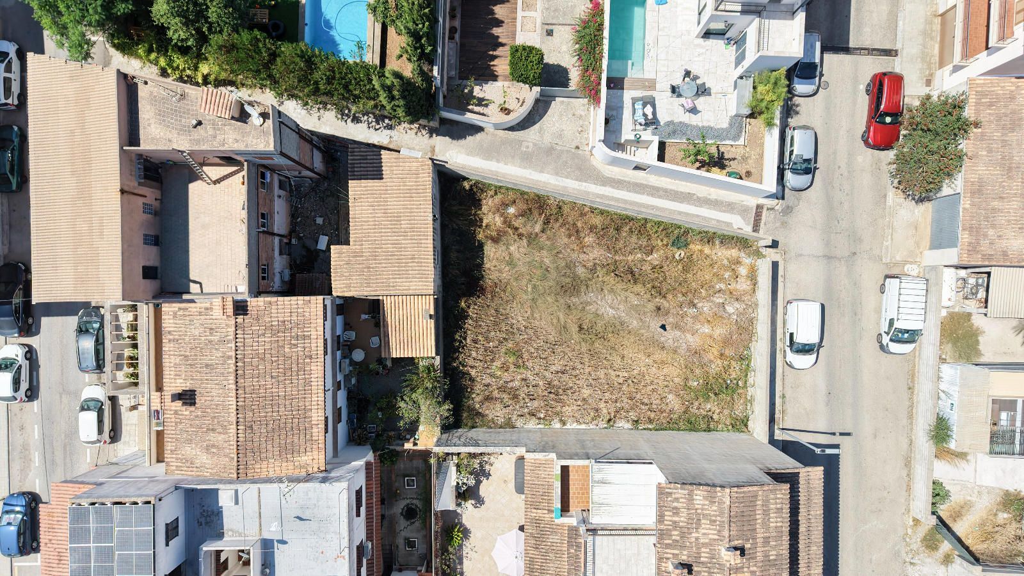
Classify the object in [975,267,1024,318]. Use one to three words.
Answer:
shed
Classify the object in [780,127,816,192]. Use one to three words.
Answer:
car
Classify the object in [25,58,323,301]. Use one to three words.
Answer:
house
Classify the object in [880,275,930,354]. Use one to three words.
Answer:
van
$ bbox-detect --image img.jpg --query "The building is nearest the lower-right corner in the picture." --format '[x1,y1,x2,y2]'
[940,360,1024,458]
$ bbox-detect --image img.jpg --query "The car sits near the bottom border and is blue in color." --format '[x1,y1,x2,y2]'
[0,490,36,556]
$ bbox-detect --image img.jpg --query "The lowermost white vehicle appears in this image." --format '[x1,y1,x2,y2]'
[75,382,113,445]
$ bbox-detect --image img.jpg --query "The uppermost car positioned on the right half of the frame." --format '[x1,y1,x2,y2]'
[788,30,824,96]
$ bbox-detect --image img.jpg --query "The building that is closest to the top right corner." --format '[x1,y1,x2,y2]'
[938,0,1024,89]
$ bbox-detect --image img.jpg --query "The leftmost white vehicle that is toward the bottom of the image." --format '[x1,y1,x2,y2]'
[0,343,30,404]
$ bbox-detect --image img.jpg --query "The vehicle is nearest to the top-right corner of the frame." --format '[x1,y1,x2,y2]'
[864,76,905,149]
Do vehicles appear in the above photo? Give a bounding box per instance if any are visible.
[75,382,113,445]
[0,126,26,193]
[864,76,905,149]
[0,490,36,556]
[72,308,105,373]
[786,299,825,369]
[788,30,824,96]
[880,275,930,354]
[780,127,816,192]
[0,41,23,111]
[0,343,30,404]
[0,263,32,337]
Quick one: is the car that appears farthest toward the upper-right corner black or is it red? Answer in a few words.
red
